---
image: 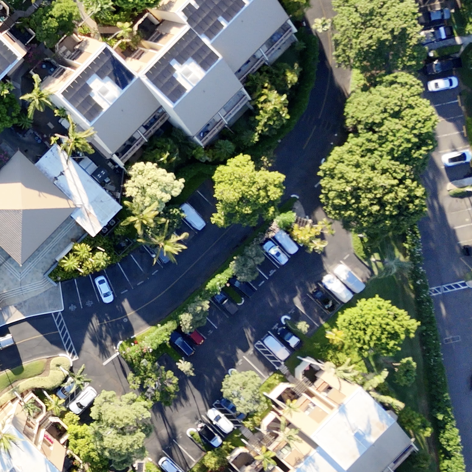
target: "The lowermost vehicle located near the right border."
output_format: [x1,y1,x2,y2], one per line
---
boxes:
[459,245,472,259]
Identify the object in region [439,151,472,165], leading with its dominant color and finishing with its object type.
white car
